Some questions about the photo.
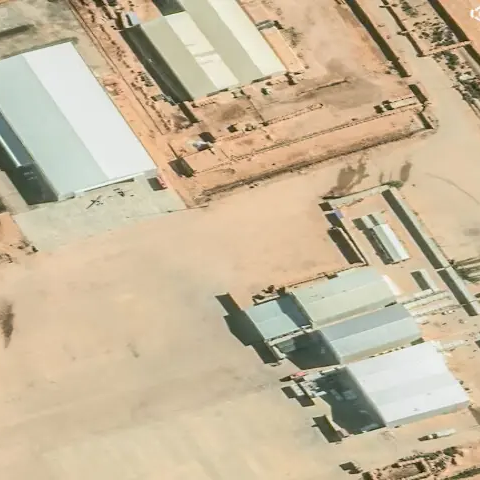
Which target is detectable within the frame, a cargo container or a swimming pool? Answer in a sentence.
Looking from above, you can make out a cargo container.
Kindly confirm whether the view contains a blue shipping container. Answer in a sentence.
No, there's no blue shipping container here.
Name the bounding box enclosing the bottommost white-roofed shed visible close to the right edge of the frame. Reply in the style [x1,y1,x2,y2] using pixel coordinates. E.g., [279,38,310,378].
[346,341,471,432]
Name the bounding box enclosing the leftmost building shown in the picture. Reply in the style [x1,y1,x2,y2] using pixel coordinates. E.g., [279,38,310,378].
[0,41,157,200]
